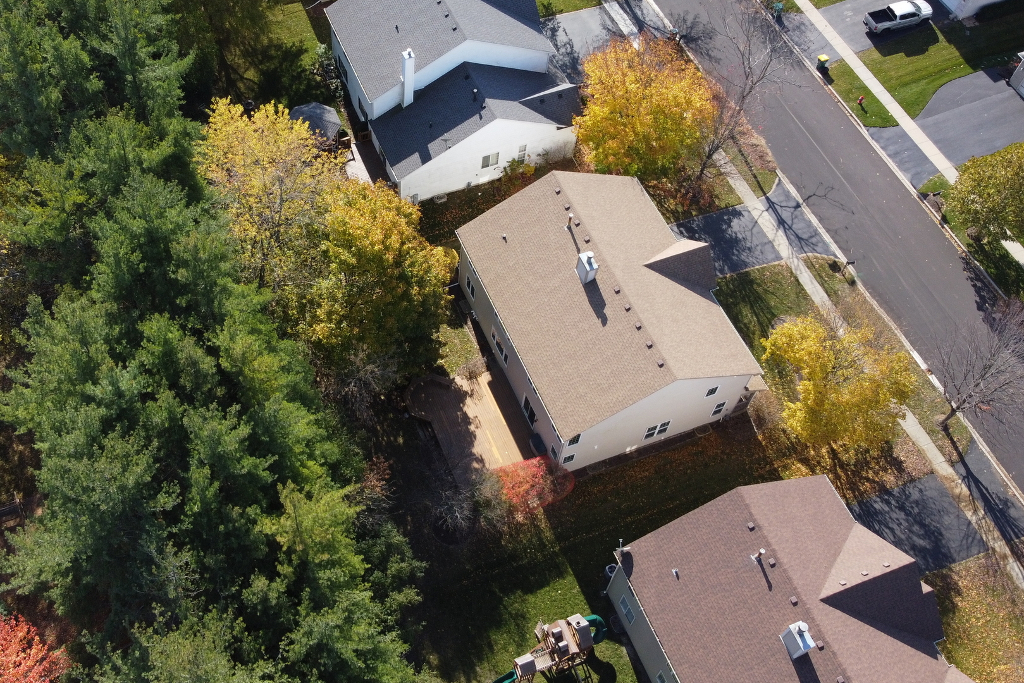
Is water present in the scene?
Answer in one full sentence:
No, the picture contains no water.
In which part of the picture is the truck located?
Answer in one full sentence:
You can find the truck in the top right area of the picture.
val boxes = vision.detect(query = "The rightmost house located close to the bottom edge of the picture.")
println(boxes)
[605,474,1013,683]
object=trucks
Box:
[864,0,940,35]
